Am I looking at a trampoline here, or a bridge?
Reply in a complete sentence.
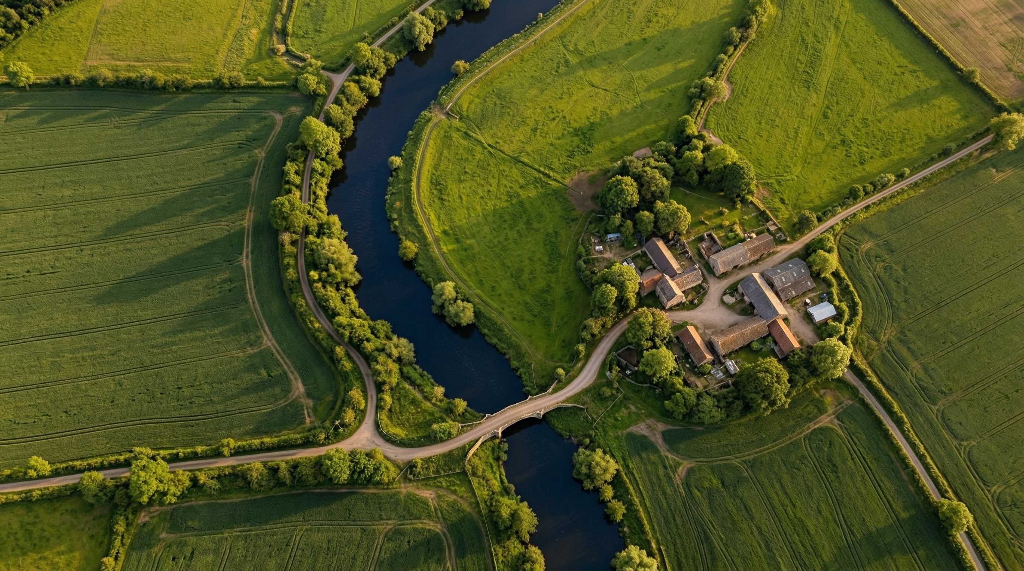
The image shows a bridge.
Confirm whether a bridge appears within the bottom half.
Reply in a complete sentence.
Yes, the scene does show a bridge within the bottom half.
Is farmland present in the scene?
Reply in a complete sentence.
Yes, there's farmland in this view.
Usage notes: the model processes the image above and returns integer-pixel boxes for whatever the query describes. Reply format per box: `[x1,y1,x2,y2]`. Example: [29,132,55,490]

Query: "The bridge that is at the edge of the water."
[461,392,584,472]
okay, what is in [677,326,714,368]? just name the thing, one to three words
shed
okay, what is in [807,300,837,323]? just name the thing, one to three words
shed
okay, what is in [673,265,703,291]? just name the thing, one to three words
house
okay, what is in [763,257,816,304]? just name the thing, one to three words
barn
